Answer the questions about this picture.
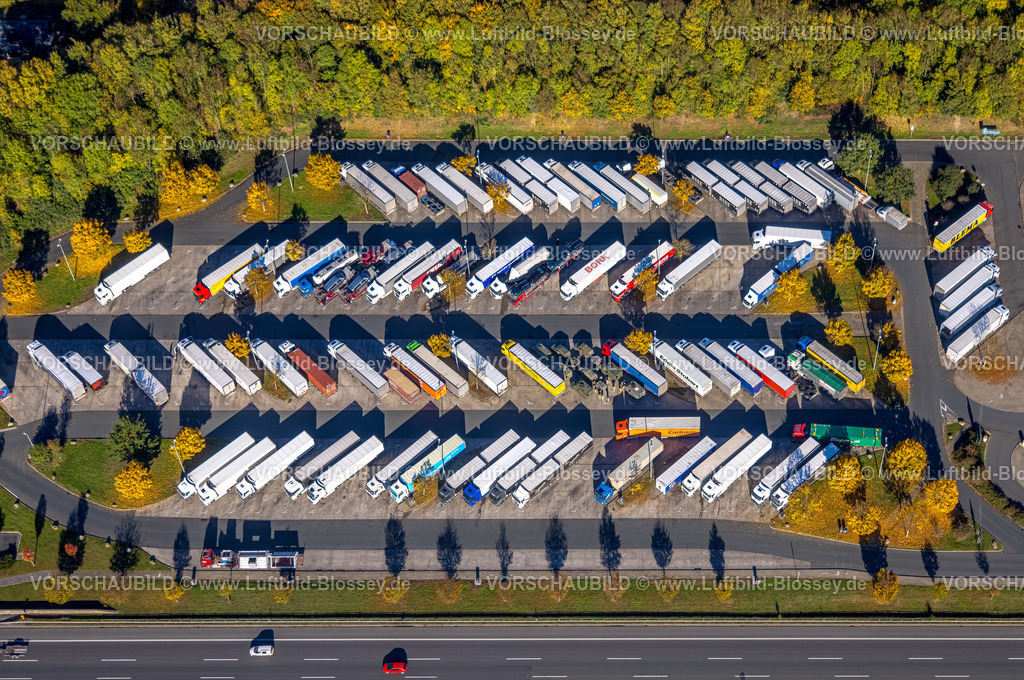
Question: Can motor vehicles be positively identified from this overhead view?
Yes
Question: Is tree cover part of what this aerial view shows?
Yes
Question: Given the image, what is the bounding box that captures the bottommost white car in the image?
[249,644,274,657]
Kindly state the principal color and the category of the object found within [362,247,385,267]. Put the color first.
red car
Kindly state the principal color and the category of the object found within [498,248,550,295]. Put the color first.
white truck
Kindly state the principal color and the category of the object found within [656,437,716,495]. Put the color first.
white trailer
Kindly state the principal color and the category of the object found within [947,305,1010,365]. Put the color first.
white truck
